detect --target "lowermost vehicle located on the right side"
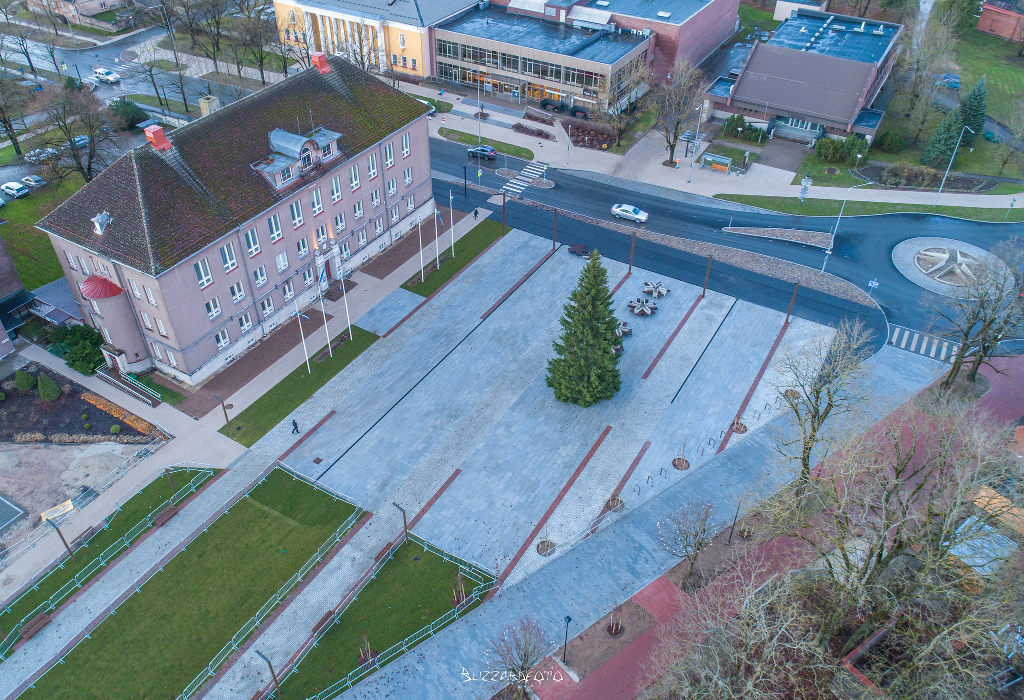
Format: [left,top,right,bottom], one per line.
[612,203,647,221]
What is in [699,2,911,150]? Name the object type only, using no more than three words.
building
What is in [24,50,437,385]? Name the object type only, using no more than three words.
building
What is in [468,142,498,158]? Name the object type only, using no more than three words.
car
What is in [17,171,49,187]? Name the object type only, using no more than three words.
car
